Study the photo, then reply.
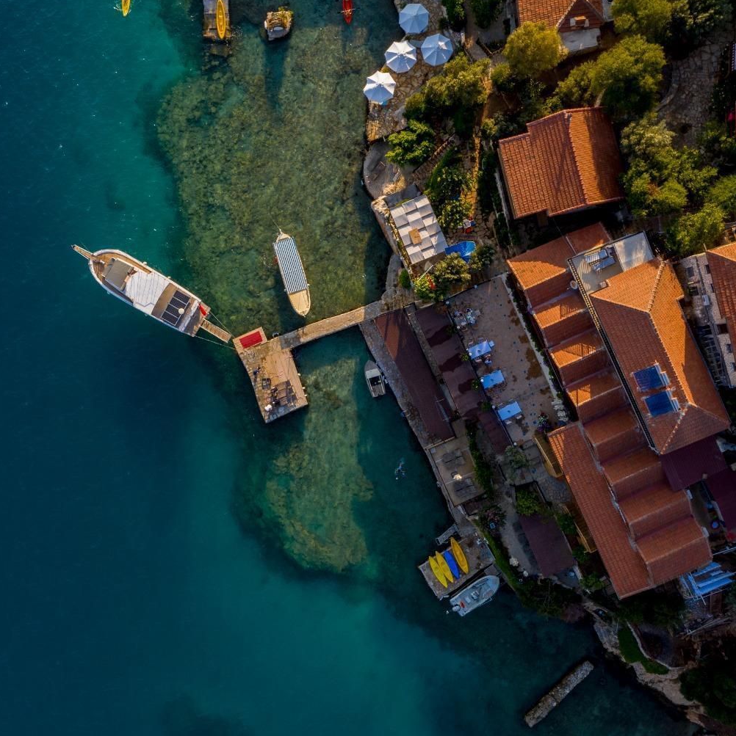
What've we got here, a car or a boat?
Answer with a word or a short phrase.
boat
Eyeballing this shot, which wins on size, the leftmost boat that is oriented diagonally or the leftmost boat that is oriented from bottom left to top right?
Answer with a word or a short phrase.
the leftmost boat that is oriented diagonally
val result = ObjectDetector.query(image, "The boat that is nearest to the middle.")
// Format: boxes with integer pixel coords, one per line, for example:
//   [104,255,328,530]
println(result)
[365,361,387,400]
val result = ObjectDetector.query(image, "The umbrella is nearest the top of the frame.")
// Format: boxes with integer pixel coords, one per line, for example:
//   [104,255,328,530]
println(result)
[398,5,429,36]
